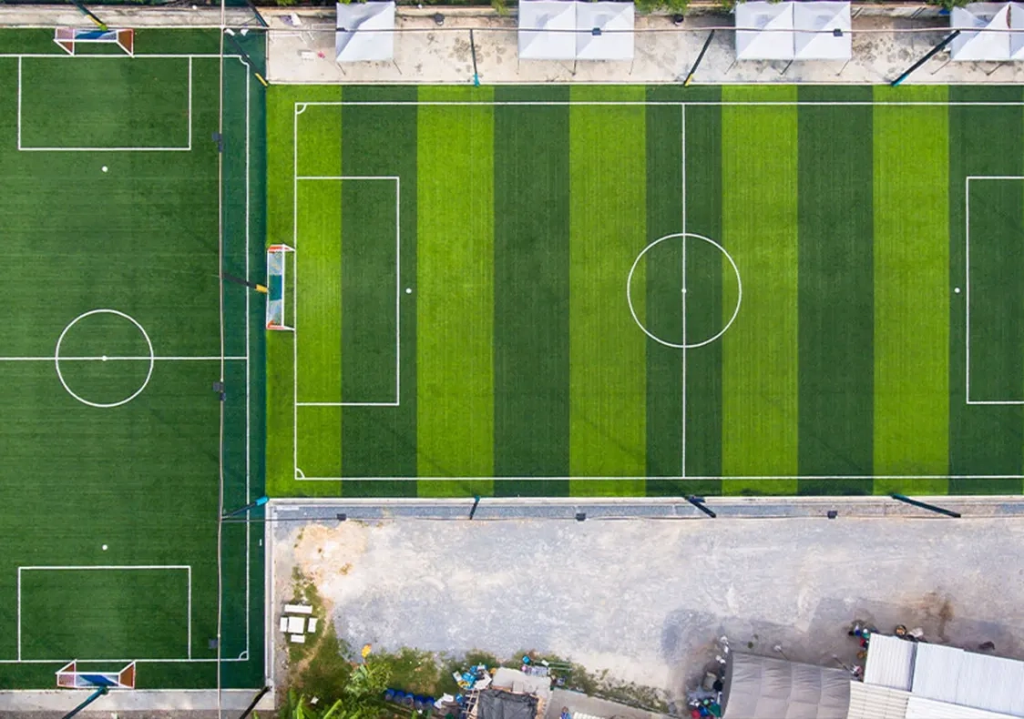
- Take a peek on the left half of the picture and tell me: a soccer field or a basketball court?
soccer field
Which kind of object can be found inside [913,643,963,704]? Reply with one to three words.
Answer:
shed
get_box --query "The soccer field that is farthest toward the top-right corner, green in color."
[266,86,1024,498]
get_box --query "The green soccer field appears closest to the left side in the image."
[0,27,263,689]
